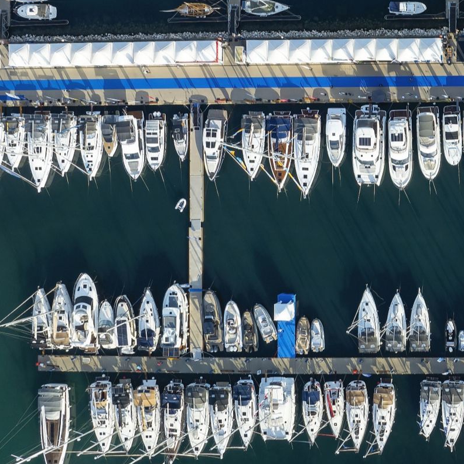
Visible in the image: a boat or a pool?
boat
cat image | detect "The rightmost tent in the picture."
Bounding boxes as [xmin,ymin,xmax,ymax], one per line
[420,38,443,65]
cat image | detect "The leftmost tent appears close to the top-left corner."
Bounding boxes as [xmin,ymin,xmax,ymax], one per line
[9,44,37,68]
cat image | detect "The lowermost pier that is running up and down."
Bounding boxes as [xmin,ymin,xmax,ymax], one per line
[277,294,296,357]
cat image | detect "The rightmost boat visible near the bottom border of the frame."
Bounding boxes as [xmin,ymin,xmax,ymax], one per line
[441,374,464,457]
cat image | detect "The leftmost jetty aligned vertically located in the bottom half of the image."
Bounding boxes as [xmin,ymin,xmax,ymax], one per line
[189,227,205,350]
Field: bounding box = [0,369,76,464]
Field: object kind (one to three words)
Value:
boat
